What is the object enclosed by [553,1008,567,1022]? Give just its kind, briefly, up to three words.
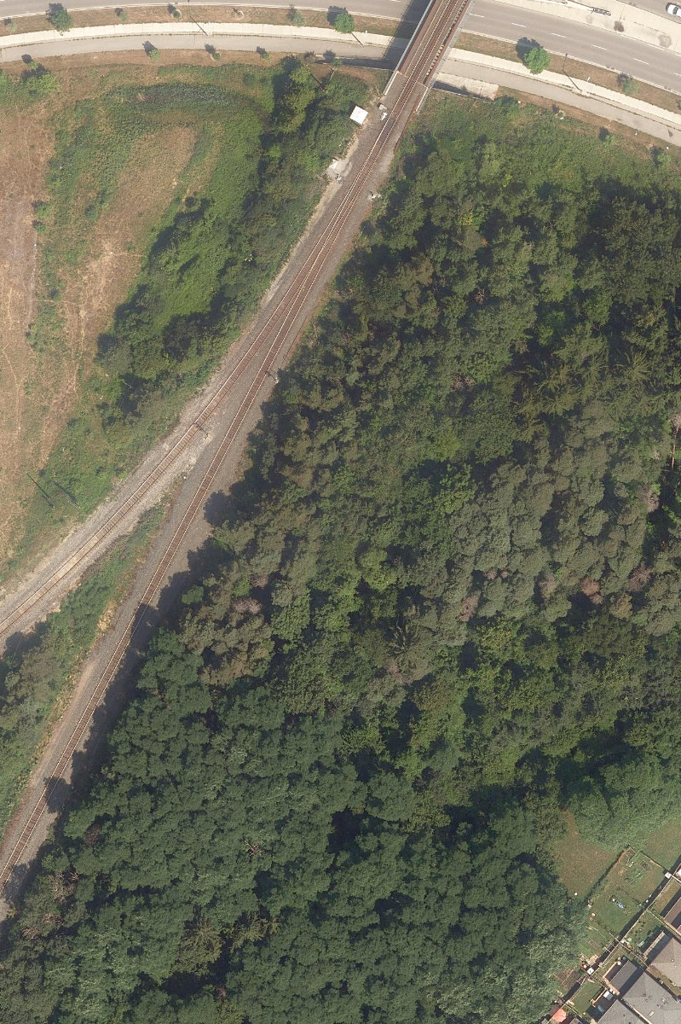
umbrella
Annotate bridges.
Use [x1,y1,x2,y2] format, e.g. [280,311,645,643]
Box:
[394,0,479,89]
